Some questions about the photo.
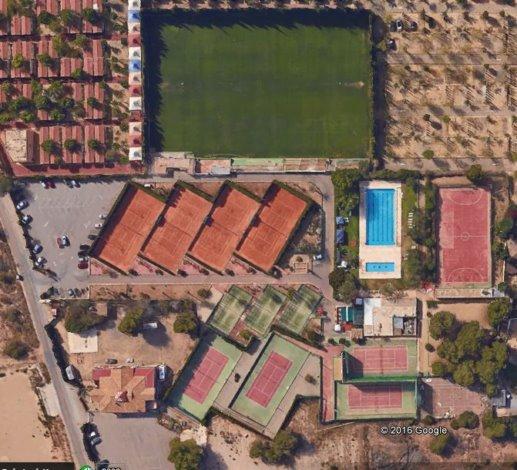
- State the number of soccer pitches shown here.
1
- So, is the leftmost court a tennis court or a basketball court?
tennis court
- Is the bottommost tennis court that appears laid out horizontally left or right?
right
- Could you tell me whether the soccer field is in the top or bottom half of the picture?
top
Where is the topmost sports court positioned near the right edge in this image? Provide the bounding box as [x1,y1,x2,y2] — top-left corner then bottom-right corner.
[437,187,492,289]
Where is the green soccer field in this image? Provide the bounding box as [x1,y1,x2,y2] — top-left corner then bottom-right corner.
[143,11,370,157]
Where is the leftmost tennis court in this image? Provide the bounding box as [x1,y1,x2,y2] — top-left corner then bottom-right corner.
[90,183,166,275]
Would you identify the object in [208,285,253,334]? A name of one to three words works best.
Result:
sports court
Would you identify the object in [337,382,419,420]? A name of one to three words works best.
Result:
tennis court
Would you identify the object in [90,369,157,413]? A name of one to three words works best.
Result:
building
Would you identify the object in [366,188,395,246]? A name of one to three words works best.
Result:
swimming pool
